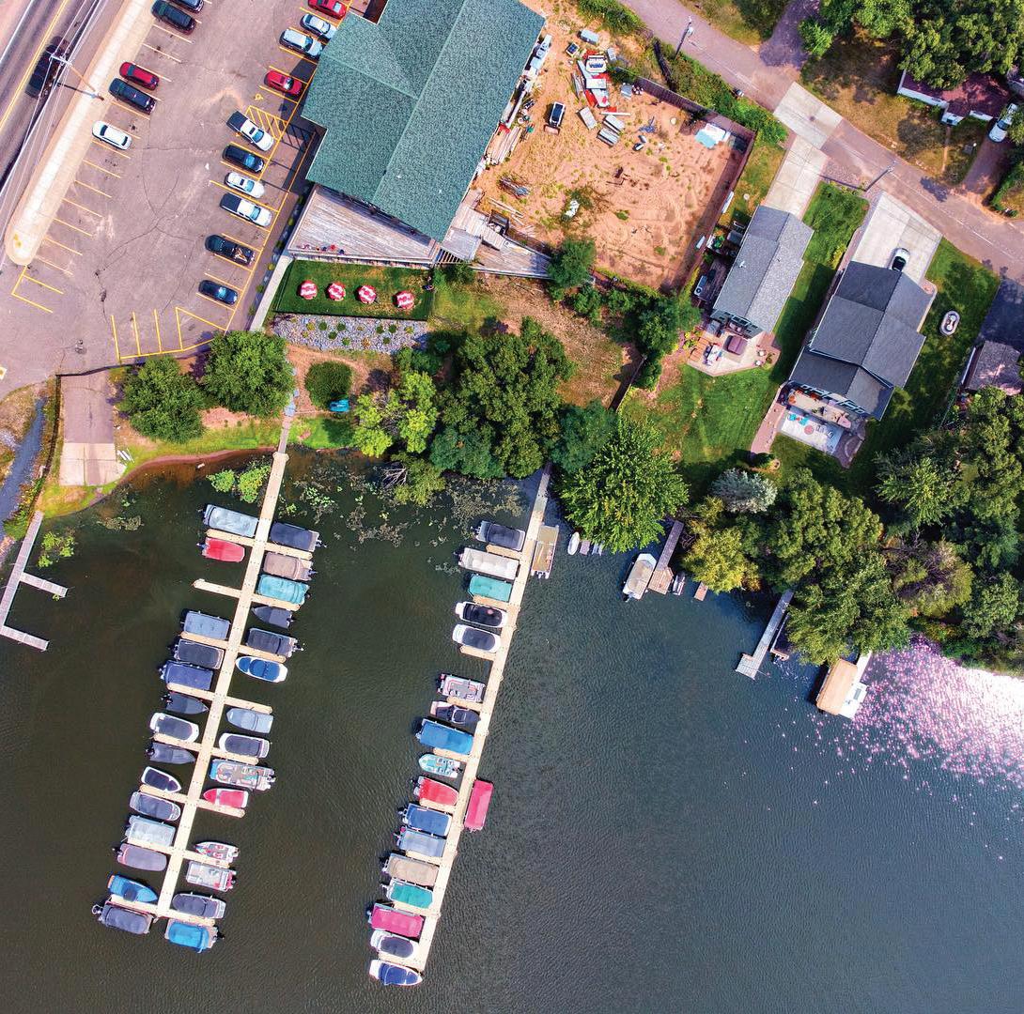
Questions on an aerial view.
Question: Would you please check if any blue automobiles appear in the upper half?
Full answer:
Yes, a blue automobile appears in the upper half.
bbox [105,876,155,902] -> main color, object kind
blue boat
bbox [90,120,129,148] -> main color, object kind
white car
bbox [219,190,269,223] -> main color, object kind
white truck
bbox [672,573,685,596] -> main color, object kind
white vessel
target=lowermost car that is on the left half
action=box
[197,278,236,304]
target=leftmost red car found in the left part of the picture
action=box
[118,60,157,88]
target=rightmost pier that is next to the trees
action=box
[844,650,876,720]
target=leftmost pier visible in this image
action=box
[0,514,69,651]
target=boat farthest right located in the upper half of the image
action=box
[941,311,960,334]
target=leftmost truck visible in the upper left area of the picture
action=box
[20,38,60,95]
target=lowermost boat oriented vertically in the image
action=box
[466,781,493,834]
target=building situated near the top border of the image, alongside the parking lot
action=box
[300,0,546,242]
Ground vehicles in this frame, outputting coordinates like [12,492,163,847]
[118,60,157,88]
[298,9,337,38]
[889,247,911,273]
[219,190,269,223]
[20,38,60,95]
[224,107,272,147]
[167,0,203,13]
[203,233,253,263]
[306,0,346,18]
[197,278,236,304]
[522,95,536,109]
[150,0,195,29]
[108,78,154,109]
[223,170,263,197]
[531,26,558,66]
[90,120,129,148]
[221,141,263,171]
[263,68,301,94]
[545,98,566,132]
[278,25,320,55]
